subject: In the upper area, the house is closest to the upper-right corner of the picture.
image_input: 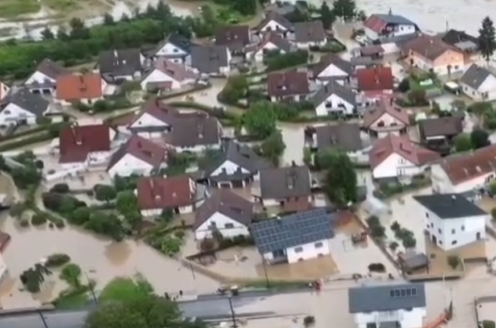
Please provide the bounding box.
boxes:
[443,24,478,50]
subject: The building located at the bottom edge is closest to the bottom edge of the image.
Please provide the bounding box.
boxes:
[348,279,427,328]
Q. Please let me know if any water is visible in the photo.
Yes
